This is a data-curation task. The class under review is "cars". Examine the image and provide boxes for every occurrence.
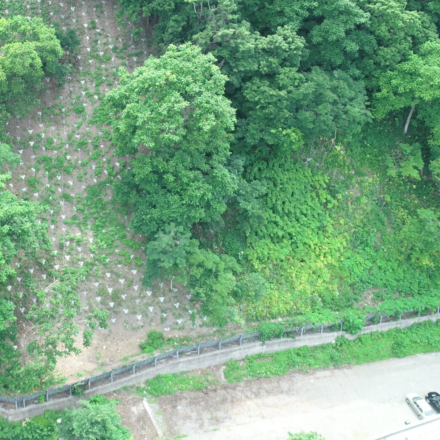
[405,391,437,422]
[426,391,440,412]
